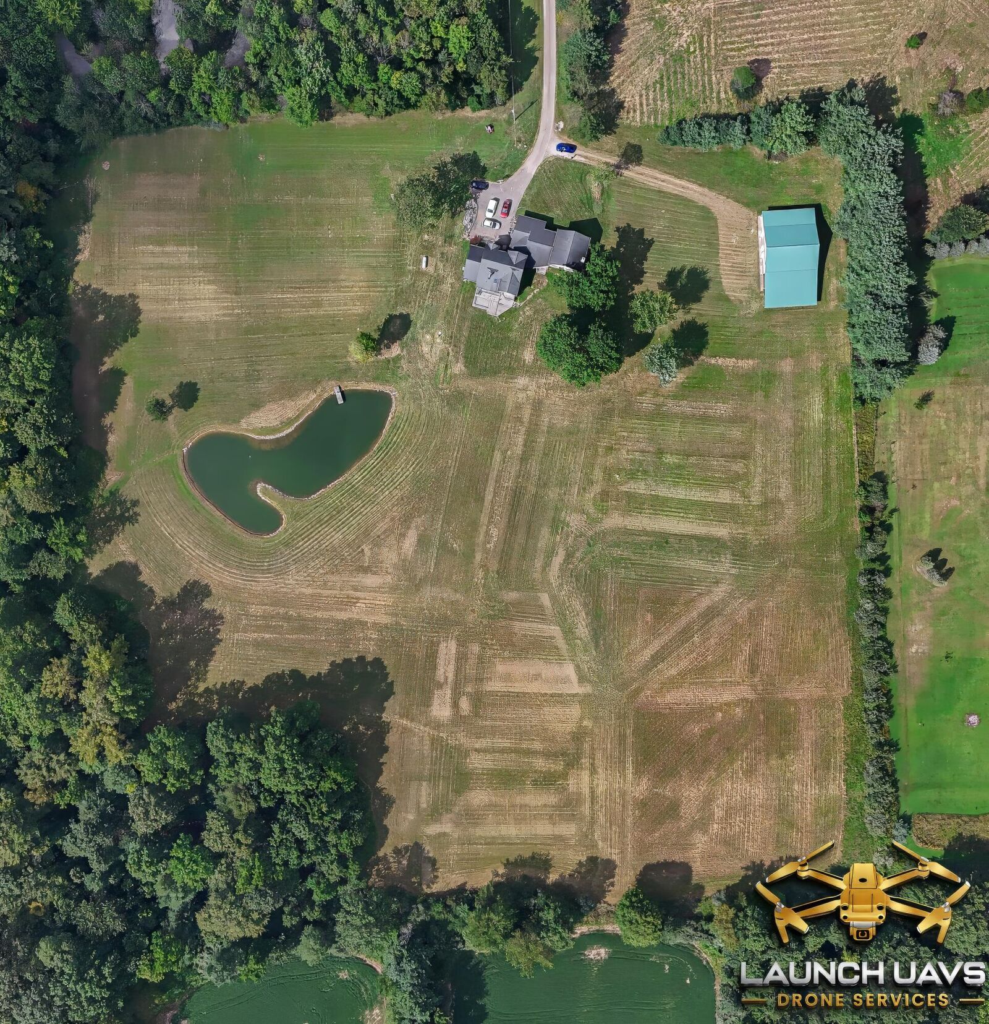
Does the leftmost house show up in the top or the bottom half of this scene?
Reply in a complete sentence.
Seen from above, the leftmost house lies in the top half of the view.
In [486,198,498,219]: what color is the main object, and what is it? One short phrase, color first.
white vehicle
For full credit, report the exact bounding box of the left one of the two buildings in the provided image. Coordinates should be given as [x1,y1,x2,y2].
[460,215,591,319]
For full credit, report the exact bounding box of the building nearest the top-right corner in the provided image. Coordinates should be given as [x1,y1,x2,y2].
[755,208,821,312]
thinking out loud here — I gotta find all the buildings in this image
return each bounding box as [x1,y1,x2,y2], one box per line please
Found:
[755,208,821,312]
[460,215,591,319]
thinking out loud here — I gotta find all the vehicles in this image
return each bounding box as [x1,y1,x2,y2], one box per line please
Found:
[557,144,576,154]
[486,198,498,219]
[482,219,501,230]
[501,199,511,219]
[471,182,489,191]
